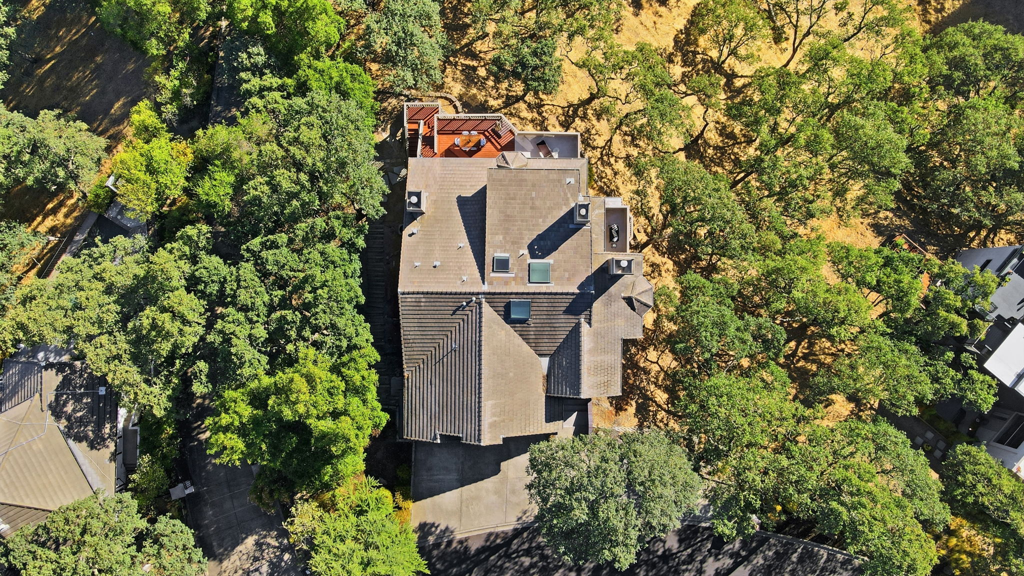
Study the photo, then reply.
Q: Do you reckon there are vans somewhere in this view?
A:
No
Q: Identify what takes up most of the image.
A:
trees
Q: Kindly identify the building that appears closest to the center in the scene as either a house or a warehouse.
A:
house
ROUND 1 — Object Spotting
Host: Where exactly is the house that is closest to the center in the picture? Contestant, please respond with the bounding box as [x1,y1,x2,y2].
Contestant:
[397,151,654,448]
